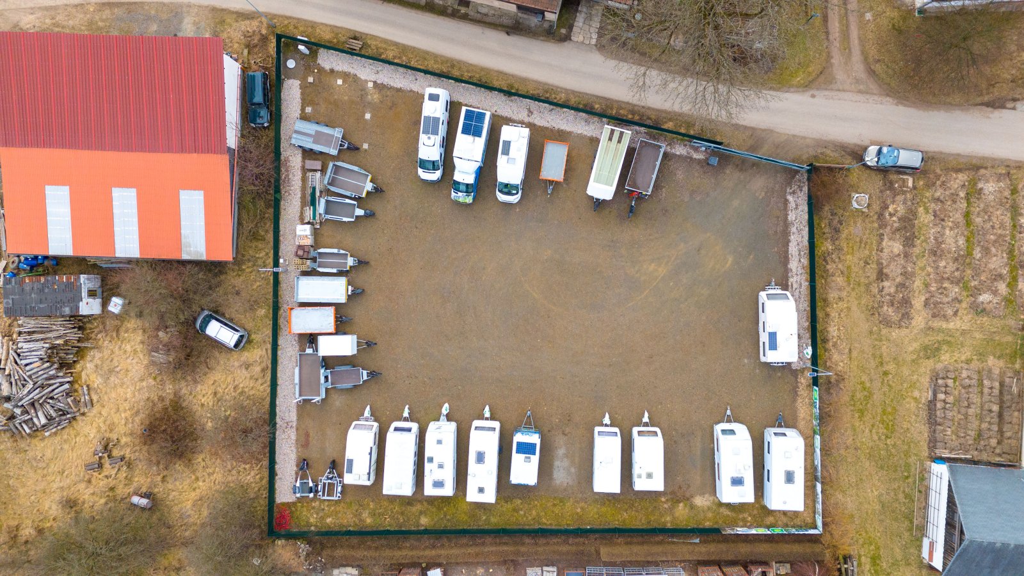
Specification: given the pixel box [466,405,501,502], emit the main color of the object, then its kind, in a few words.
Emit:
white camper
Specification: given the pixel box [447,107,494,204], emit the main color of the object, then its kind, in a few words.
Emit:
white camper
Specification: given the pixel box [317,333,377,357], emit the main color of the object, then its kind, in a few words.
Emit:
white trailer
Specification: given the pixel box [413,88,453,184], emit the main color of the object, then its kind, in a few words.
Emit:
white van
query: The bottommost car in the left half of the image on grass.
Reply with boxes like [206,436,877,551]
[192,310,252,352]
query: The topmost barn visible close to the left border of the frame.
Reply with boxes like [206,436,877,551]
[0,32,242,261]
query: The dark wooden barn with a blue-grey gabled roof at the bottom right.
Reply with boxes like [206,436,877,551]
[922,459,1024,576]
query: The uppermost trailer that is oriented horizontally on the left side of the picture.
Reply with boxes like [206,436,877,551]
[292,120,359,155]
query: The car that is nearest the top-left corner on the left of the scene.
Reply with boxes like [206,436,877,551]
[244,70,274,128]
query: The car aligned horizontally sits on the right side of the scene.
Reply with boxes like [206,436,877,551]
[862,142,925,174]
